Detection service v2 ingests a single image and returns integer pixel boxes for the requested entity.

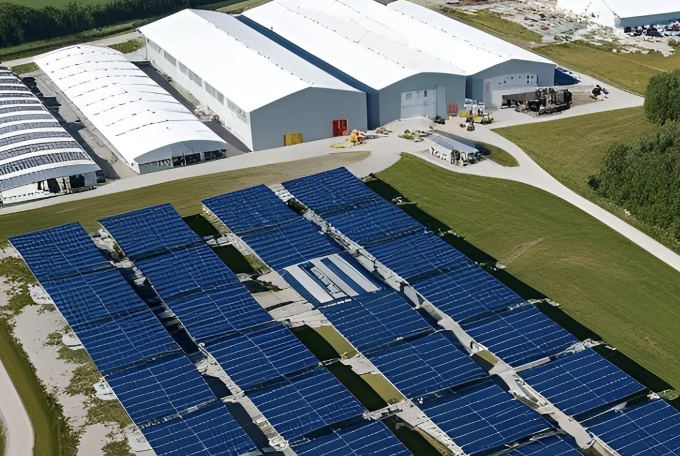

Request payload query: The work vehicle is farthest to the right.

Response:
[592,80,612,102]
